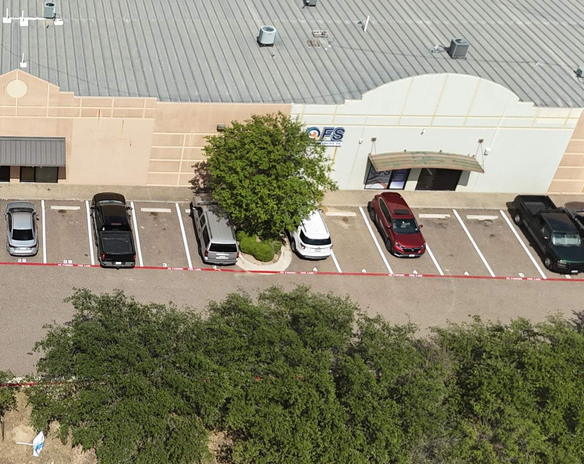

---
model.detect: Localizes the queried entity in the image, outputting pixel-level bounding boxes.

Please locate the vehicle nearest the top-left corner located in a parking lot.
[4,201,42,257]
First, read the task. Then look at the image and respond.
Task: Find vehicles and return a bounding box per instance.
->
[4,201,42,257]
[511,200,584,273]
[90,199,133,269]
[192,201,239,265]
[279,203,332,259]
[371,197,423,258]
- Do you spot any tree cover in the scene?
Yes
